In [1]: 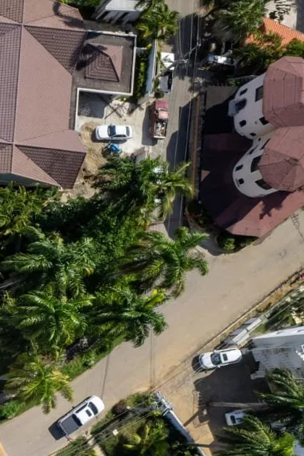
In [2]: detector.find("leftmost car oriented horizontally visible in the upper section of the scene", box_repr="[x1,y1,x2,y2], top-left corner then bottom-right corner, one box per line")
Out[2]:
[90,123,132,143]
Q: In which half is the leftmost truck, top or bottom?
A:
bottom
